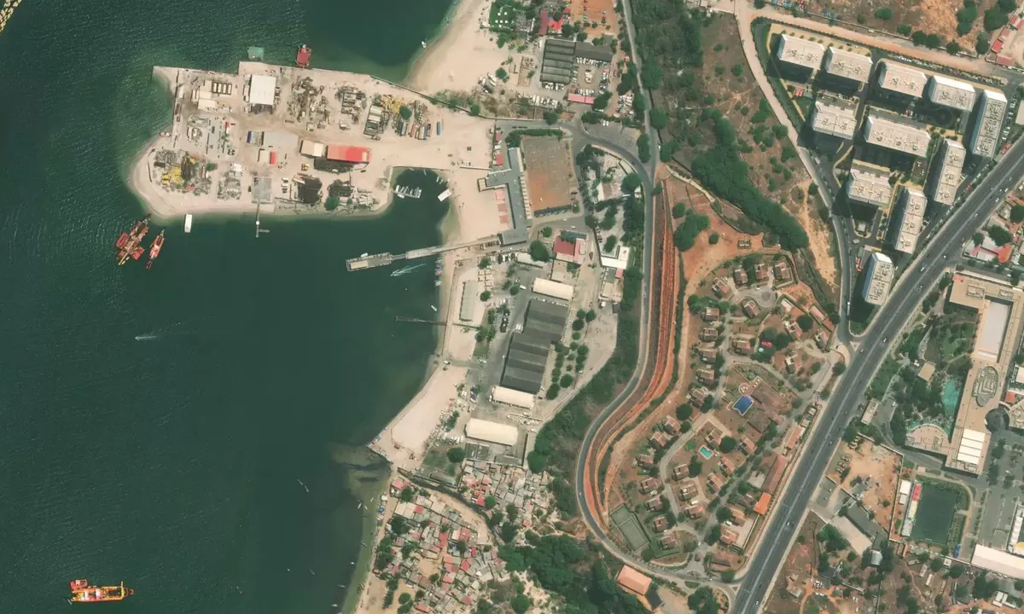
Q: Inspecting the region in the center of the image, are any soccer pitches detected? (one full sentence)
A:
No, no soccer pitch appears in the center of the image.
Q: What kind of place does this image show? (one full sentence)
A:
It's a port.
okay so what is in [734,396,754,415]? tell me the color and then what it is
blue swimming pool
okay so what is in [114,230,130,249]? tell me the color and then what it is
red ship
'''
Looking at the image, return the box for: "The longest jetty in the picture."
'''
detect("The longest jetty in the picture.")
[405,235,500,259]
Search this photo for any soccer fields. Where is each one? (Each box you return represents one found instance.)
[910,482,956,543]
